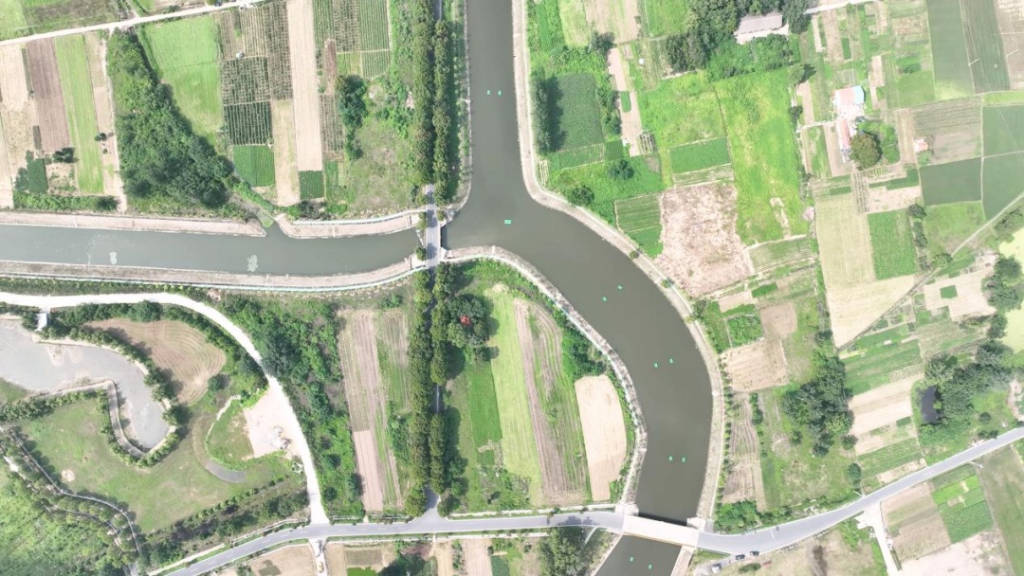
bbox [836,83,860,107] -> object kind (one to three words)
house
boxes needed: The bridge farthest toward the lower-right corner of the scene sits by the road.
[611,503,705,568]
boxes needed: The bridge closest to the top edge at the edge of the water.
[412,183,457,268]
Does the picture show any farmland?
Yes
